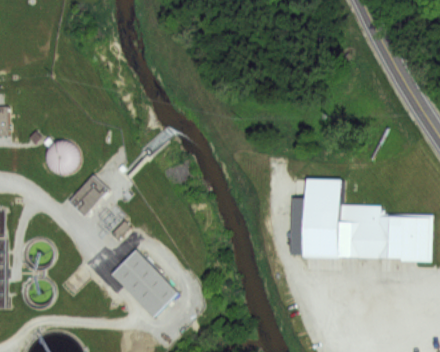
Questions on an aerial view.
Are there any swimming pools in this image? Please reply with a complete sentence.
No, this view has no swimming pool in it.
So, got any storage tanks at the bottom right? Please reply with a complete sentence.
No, no storage tank appears at the bottom right.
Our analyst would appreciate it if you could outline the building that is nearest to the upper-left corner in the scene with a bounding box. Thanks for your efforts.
[0,106,15,138]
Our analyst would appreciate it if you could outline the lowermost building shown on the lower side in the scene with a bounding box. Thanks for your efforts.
[112,250,178,318]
